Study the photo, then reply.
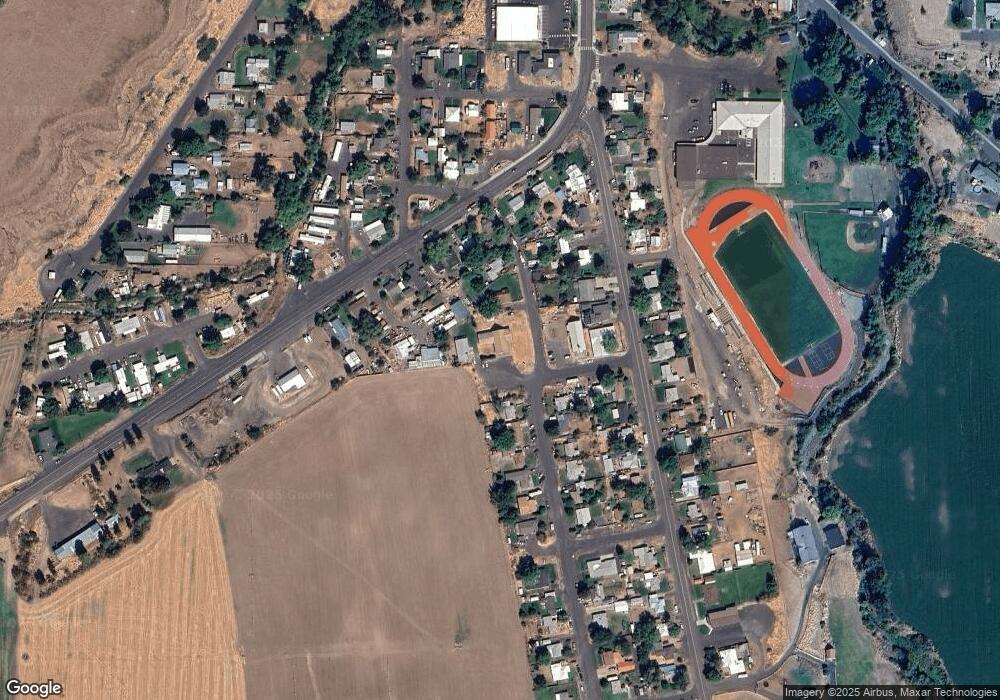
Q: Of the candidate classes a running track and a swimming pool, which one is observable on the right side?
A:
running track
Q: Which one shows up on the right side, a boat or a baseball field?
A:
baseball field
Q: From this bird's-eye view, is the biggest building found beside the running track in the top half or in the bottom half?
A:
top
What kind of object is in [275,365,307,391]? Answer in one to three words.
barn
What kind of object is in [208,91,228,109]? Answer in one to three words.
house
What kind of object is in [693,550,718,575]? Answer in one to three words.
house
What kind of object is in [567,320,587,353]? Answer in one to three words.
building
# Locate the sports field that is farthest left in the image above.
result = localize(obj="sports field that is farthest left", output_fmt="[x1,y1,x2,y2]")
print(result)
[715,210,840,364]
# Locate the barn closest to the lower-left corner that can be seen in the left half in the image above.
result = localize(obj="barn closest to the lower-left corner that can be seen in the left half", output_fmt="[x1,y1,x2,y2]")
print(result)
[51,519,104,557]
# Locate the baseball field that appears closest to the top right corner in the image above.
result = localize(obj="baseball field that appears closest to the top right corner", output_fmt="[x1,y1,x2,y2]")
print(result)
[805,212,881,280]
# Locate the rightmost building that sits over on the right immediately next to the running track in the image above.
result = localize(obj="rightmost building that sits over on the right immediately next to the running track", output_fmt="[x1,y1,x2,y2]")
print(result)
[716,101,784,184]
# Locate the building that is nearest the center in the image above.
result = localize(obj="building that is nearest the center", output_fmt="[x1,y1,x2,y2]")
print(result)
[478,330,513,357]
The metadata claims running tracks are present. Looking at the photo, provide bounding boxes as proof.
[683,188,854,411]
